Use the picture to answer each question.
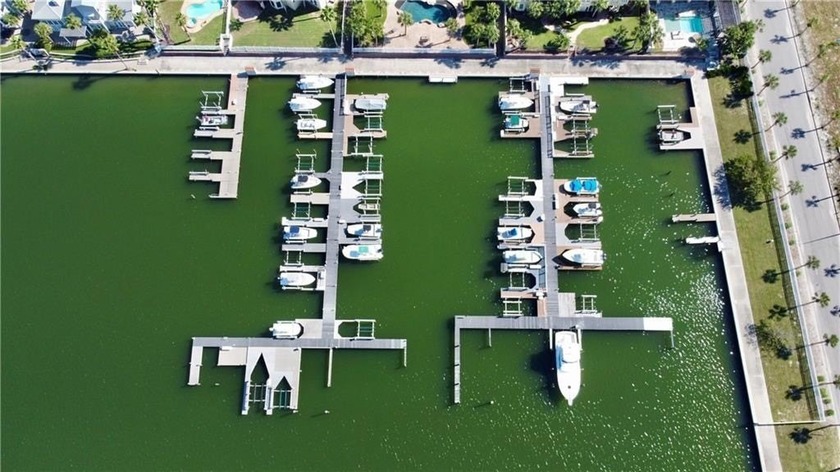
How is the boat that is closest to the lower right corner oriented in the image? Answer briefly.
vertically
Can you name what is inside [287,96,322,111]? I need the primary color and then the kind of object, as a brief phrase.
white boat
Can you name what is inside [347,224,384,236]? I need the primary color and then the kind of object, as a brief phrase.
white boat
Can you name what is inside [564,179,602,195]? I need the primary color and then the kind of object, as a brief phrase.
blue boat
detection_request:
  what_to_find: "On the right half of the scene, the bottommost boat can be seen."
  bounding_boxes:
[554,332,581,405]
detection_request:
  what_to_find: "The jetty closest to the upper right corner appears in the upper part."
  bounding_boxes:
[654,107,704,152]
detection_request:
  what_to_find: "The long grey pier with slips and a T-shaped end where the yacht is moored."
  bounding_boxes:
[453,75,676,405]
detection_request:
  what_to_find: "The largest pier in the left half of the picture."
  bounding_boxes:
[187,72,409,415]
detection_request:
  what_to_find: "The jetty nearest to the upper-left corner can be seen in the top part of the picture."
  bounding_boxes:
[187,76,249,200]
